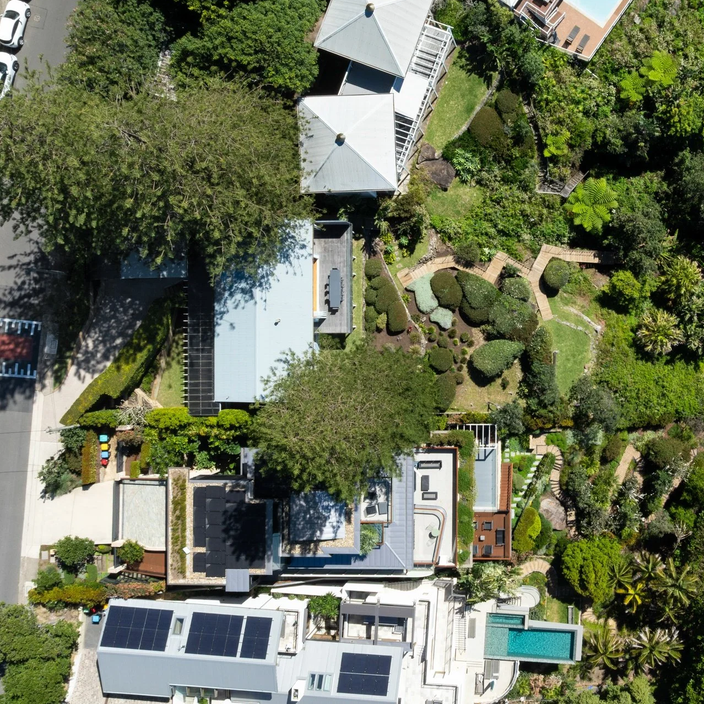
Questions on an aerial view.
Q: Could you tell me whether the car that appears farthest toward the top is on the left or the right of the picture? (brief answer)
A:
left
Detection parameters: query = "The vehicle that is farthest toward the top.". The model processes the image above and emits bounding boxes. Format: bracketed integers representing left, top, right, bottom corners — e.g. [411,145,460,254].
[0,0,34,48]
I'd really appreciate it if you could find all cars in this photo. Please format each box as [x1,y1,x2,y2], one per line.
[0,52,21,91]
[0,0,34,48]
